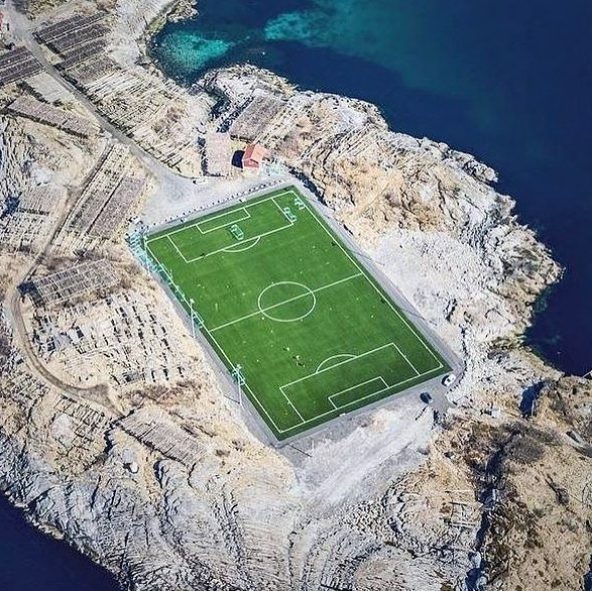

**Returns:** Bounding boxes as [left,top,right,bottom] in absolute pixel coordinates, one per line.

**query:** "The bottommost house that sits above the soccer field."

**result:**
[242,141,268,172]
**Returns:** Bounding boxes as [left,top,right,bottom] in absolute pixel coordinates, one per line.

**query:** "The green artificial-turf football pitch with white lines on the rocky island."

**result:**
[139,185,452,440]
